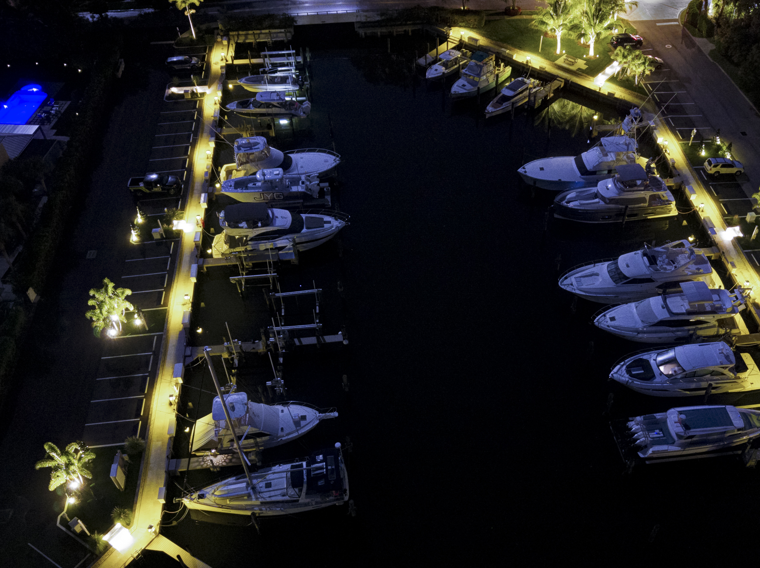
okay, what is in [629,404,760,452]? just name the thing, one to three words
boat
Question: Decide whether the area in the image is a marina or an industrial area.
marina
